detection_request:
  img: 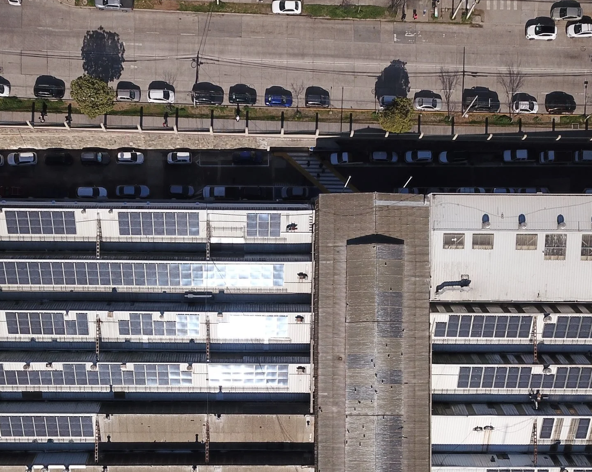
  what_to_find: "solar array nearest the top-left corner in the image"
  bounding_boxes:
[5,212,77,237]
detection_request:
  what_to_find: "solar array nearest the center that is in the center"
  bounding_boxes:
[246,214,281,238]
